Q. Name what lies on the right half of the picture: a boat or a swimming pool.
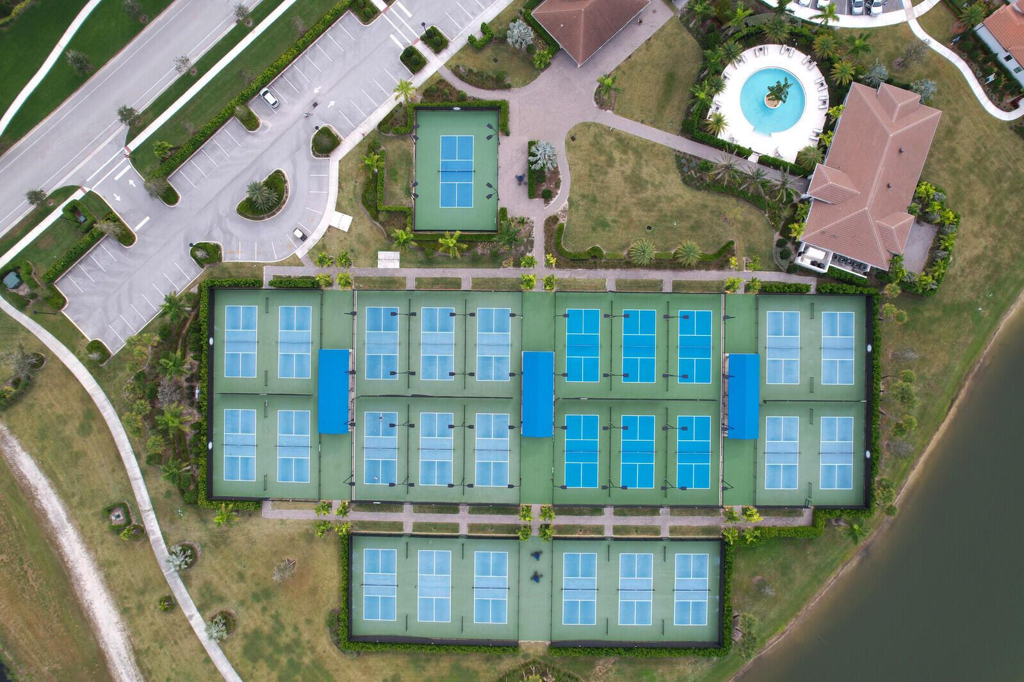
swimming pool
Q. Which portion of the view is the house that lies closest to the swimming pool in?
top right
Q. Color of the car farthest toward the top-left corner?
white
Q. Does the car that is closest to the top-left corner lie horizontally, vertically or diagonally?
diagonally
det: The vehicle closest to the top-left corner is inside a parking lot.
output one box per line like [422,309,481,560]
[258,87,282,111]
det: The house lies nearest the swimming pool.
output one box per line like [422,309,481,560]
[796,82,942,271]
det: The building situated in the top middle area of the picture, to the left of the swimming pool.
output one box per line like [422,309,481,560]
[531,0,649,69]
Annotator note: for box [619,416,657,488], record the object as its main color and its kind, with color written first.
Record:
blue sports court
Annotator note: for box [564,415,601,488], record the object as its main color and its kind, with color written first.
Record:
blue sports court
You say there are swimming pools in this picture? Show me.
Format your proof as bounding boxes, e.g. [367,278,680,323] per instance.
[707,44,829,162]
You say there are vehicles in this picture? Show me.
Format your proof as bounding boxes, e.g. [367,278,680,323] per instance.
[850,0,864,16]
[258,87,282,111]
[869,0,882,16]
[815,0,829,10]
[293,229,308,242]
